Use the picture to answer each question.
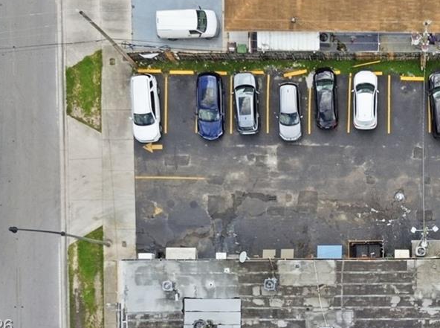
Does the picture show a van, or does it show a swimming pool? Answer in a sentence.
It is a van that can be seen here.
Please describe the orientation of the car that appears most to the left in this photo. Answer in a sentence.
Seen from above, the car that appears most to the left lies up and down.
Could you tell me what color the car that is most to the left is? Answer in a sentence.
The color of the car that is most to the left is white.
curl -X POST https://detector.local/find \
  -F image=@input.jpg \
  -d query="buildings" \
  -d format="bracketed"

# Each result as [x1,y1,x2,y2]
[222,0,440,34]
[118,245,440,328]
